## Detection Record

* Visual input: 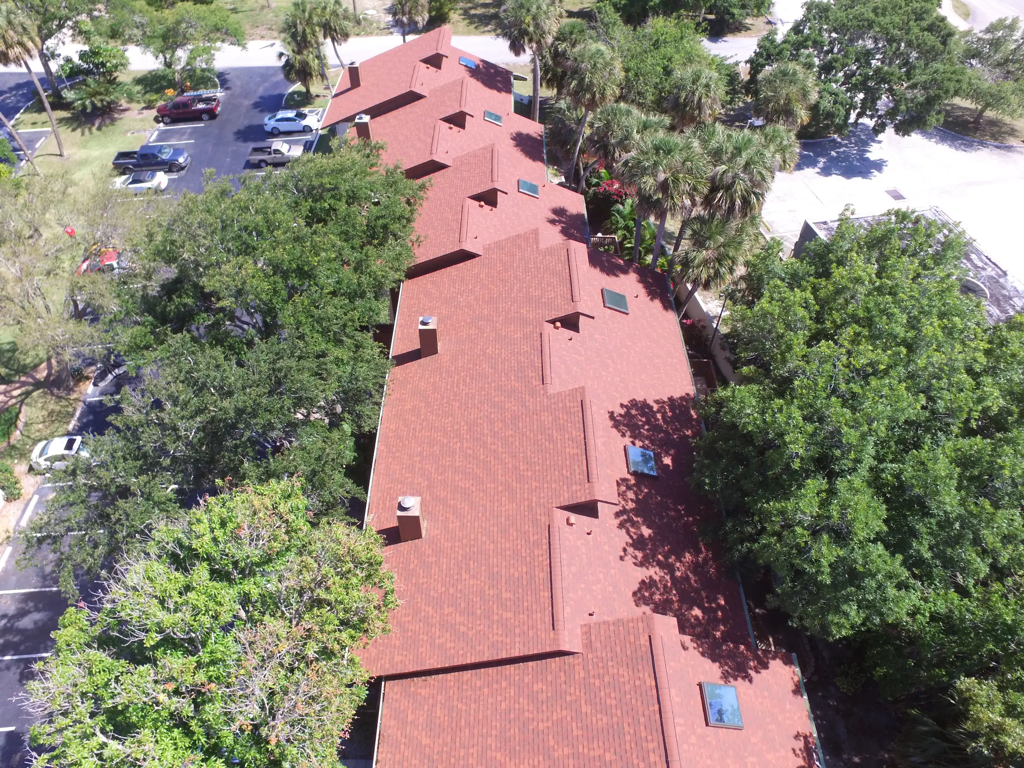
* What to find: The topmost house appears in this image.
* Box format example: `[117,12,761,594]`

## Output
[320,27,522,146]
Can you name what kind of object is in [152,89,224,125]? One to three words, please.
truck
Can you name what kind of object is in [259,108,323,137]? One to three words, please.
car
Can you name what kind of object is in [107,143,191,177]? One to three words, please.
truck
